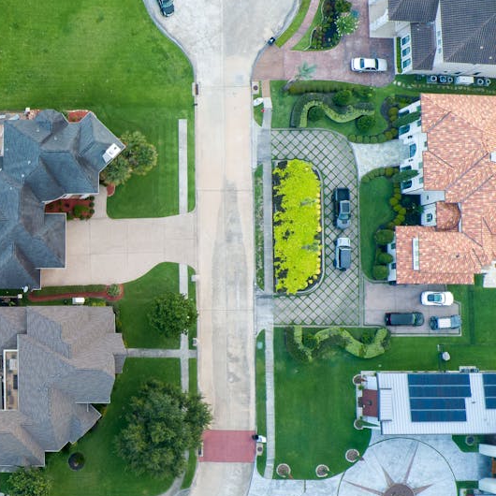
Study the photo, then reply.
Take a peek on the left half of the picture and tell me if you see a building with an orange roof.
No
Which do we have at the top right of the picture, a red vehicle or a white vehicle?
white vehicle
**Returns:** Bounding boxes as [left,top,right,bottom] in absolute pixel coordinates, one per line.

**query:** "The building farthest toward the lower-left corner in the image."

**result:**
[0,305,126,467]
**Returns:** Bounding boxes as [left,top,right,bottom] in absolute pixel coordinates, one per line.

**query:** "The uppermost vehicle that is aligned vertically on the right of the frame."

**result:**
[332,187,352,228]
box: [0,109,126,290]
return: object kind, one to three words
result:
house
